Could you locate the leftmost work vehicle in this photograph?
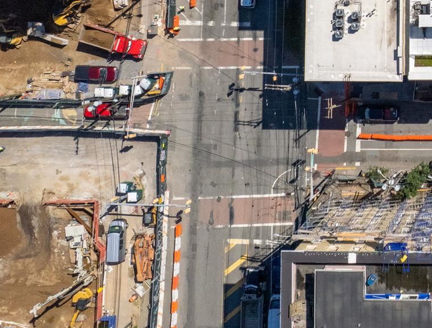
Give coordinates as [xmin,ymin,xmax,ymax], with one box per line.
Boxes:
[0,33,27,47]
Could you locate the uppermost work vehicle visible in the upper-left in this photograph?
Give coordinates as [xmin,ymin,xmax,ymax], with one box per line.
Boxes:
[55,0,79,31]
